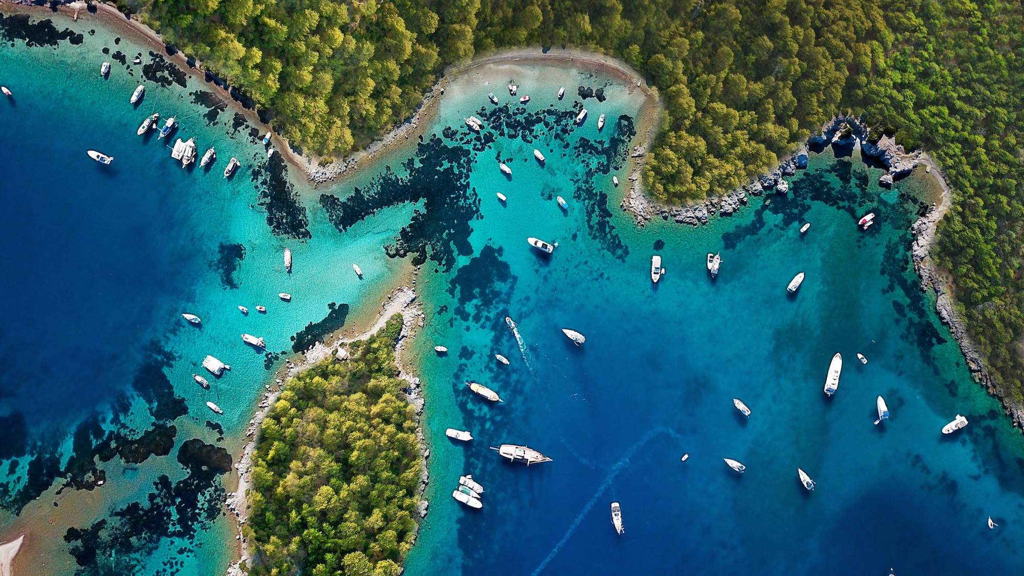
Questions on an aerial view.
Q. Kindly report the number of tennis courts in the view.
0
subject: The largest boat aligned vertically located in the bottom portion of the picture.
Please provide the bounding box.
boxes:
[825,354,843,398]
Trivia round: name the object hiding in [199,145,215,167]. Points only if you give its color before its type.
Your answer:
white boat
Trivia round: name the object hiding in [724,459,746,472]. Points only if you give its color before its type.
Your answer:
white boat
